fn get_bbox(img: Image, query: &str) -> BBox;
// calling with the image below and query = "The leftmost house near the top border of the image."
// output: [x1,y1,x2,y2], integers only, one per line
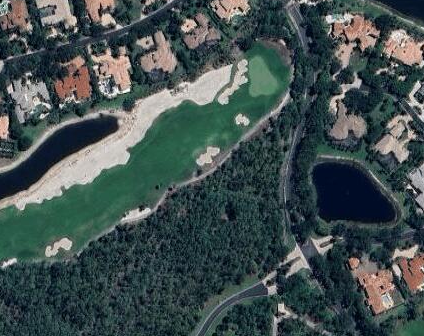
[0,0,30,34]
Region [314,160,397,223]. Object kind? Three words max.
pond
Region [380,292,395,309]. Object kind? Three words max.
swimming pool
